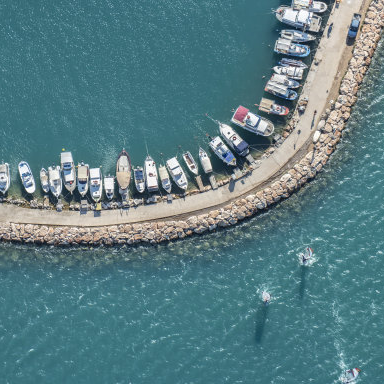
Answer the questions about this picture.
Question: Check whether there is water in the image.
Yes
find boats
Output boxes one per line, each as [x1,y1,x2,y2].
[234,105,288,140]
[258,97,300,115]
[158,161,171,193]
[270,64,312,79]
[103,173,115,208]
[145,144,160,204]
[274,39,313,56]
[210,117,271,161]
[210,136,236,166]
[269,73,309,88]
[265,81,304,99]
[0,162,11,202]
[279,28,323,42]
[291,0,336,11]
[49,165,63,208]
[89,166,102,209]
[60,149,76,209]
[199,146,214,177]
[165,156,189,195]
[41,167,50,192]
[278,59,310,69]
[116,142,132,191]
[19,159,35,198]
[182,150,199,175]
[77,162,89,199]
[134,165,148,203]
[271,7,329,32]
